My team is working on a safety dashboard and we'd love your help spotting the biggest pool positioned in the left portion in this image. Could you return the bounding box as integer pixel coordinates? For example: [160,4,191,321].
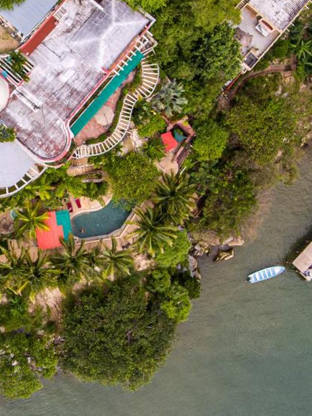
[8,192,143,262]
